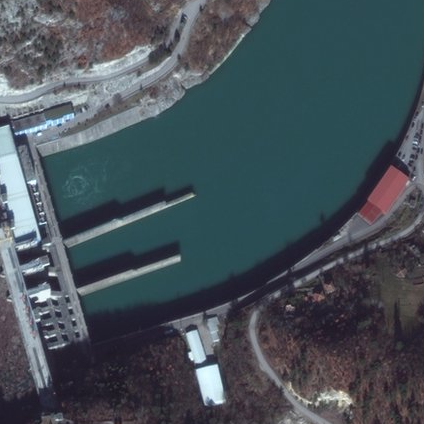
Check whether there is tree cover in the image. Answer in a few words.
Yes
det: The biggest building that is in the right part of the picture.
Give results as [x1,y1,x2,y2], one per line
[357,166,410,227]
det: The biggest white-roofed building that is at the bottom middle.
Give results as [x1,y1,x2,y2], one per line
[196,364,224,407]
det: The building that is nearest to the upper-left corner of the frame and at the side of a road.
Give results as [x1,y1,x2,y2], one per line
[11,101,74,137]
